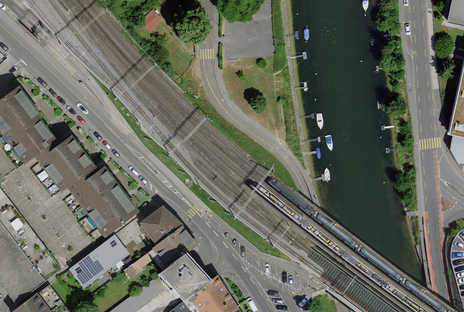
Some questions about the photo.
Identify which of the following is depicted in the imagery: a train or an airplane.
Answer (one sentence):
Of the two, only a train appears.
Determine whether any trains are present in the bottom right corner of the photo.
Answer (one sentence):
Yes, you'll find a train in the bottom right corner of the photo.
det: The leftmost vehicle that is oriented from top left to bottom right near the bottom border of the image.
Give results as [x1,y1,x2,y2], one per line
[246,296,258,312]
